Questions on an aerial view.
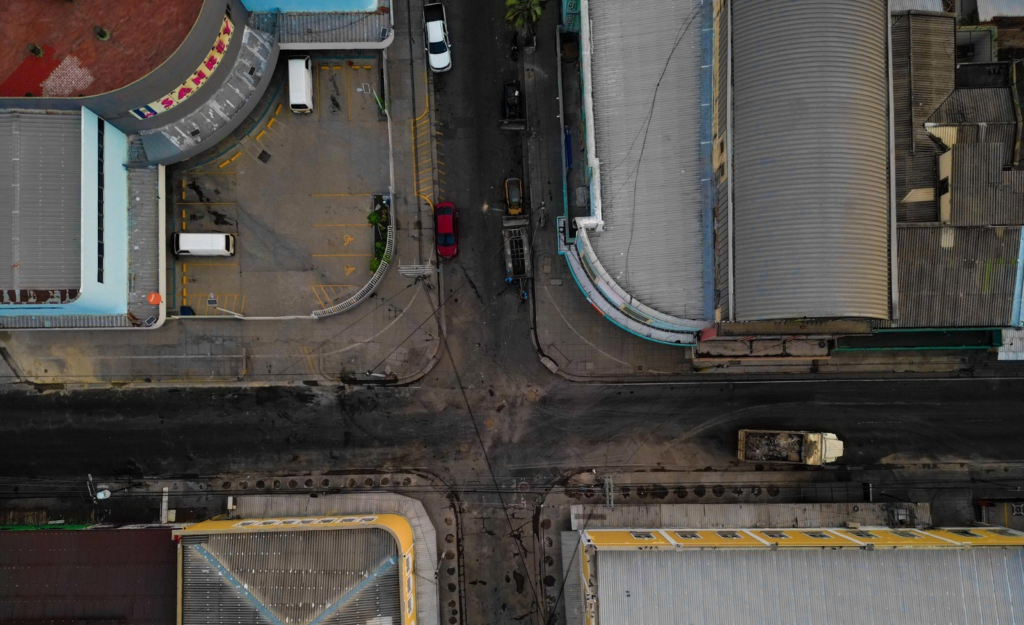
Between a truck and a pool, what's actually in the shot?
truck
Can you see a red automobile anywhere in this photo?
Yes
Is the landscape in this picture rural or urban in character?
urban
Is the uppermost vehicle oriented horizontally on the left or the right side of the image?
left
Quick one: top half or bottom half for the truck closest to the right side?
bottom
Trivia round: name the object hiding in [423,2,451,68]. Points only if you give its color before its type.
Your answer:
white truck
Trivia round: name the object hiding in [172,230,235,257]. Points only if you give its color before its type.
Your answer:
white vehicle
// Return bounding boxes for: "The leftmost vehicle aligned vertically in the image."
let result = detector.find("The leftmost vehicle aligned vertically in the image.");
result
[287,56,315,115]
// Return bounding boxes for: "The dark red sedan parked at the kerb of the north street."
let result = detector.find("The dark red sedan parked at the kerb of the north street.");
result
[432,201,459,257]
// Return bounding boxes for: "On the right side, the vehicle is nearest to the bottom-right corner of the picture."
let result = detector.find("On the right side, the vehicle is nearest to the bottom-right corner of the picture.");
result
[732,429,845,468]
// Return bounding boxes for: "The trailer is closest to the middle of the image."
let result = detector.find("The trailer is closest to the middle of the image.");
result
[504,229,533,294]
